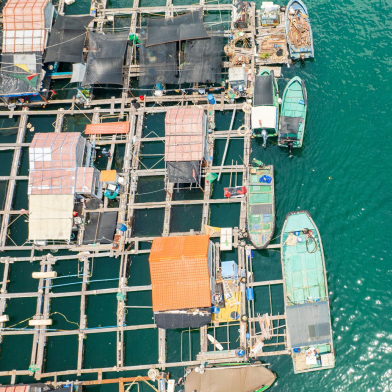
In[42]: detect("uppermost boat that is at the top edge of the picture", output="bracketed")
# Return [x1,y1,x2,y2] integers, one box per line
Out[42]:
[285,0,313,70]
